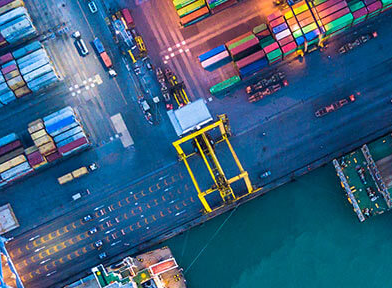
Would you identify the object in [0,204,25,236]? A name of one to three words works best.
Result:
building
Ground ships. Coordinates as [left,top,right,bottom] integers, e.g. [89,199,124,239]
[336,130,392,227]
[62,247,191,288]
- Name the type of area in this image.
port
